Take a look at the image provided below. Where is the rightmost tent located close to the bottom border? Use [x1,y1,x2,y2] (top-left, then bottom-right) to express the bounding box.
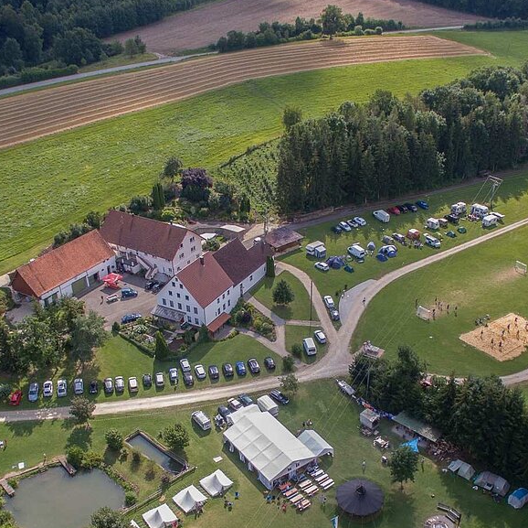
[504,487,528,511]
